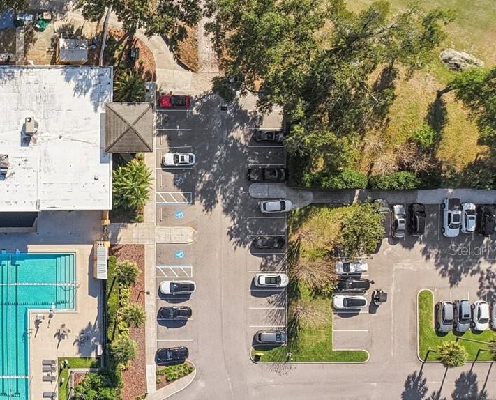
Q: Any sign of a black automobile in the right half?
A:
Yes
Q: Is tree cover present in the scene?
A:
Yes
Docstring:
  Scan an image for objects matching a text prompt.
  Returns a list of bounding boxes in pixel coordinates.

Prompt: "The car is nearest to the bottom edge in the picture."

[155,348,189,363]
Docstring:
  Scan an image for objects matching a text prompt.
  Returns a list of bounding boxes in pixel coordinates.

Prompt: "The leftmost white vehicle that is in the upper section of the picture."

[161,151,195,167]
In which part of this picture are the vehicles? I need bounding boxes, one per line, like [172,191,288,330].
[251,235,285,251]
[459,203,476,233]
[435,300,455,332]
[157,306,191,319]
[157,93,190,109]
[159,280,195,296]
[451,300,472,332]
[367,291,389,303]
[256,198,292,215]
[488,301,496,330]
[335,277,372,293]
[245,166,287,183]
[407,203,426,235]
[330,294,366,311]
[440,197,462,238]
[161,151,195,167]
[475,204,495,235]
[252,330,286,347]
[388,205,409,238]
[470,300,491,331]
[252,274,287,289]
[155,348,189,363]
